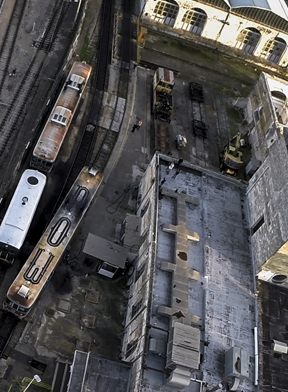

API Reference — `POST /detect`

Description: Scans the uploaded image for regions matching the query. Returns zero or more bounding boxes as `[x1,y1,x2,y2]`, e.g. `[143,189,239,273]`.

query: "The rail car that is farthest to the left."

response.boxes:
[0,171,46,271]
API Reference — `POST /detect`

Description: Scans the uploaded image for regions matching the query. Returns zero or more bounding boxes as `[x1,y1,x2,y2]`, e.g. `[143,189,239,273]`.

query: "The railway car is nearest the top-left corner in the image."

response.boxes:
[28,62,94,177]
